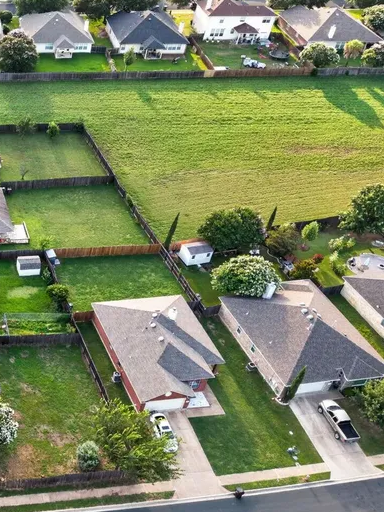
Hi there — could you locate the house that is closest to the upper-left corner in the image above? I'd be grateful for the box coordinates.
[25,10,93,58]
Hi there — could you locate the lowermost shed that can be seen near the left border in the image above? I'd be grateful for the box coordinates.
[16,254,43,277]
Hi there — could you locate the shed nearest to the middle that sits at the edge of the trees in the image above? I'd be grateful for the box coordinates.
[178,240,215,266]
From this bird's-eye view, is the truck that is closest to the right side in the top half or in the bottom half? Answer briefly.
bottom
